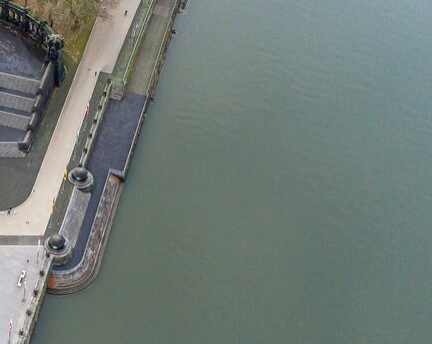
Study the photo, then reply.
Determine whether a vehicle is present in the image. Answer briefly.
No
